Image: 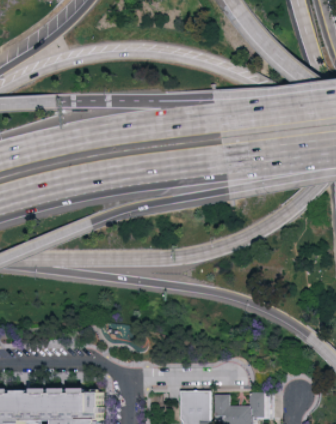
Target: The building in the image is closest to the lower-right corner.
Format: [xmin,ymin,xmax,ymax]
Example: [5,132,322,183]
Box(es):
[215,394,272,424]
